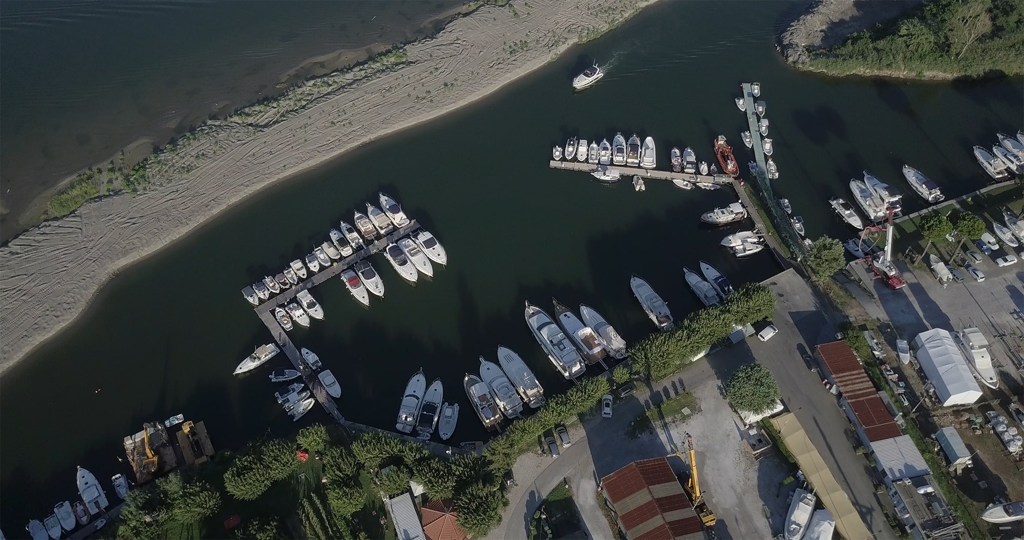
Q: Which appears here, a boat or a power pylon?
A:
boat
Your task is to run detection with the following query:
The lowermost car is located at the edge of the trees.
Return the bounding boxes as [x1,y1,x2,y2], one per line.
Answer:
[500,466,517,490]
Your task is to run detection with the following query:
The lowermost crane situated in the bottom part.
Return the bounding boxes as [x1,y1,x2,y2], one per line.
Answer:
[678,434,720,530]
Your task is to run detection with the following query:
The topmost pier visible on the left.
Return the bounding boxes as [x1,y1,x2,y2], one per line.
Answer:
[255,219,422,317]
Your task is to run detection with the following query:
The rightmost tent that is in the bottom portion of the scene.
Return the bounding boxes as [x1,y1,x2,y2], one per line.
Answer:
[912,328,982,404]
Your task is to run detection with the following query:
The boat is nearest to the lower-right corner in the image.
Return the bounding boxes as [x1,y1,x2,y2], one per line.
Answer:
[981,498,1024,529]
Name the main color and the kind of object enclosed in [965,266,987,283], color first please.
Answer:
gray car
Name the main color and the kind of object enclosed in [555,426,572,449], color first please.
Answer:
gray car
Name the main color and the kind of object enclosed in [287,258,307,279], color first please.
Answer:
white boat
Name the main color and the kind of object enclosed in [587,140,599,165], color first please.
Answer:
white boat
